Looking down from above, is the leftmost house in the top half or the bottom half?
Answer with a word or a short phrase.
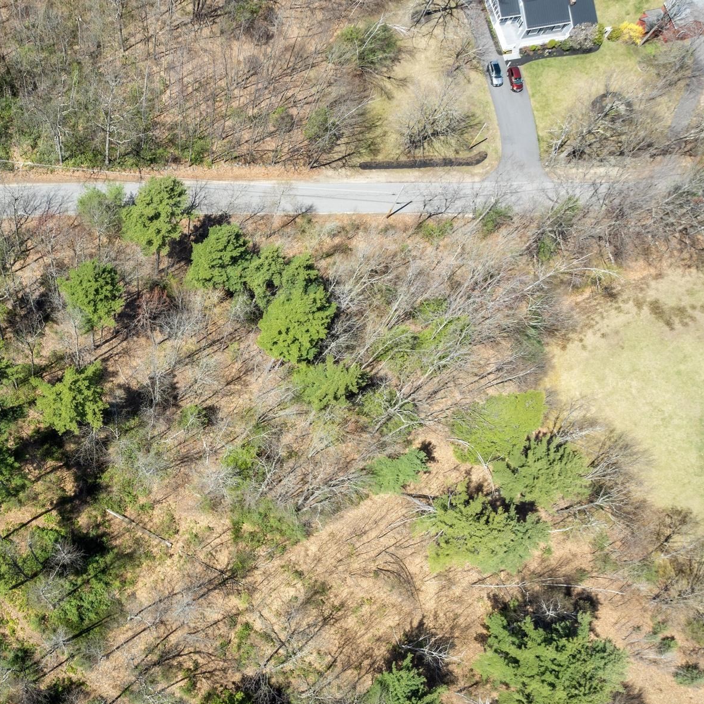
top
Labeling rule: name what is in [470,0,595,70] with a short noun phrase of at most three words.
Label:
house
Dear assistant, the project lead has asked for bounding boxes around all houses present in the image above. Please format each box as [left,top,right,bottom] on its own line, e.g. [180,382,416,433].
[470,0,595,70]
[627,0,704,52]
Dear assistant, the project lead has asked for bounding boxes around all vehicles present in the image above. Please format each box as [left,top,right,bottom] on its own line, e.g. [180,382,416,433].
[488,59,507,86]
[509,64,527,91]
